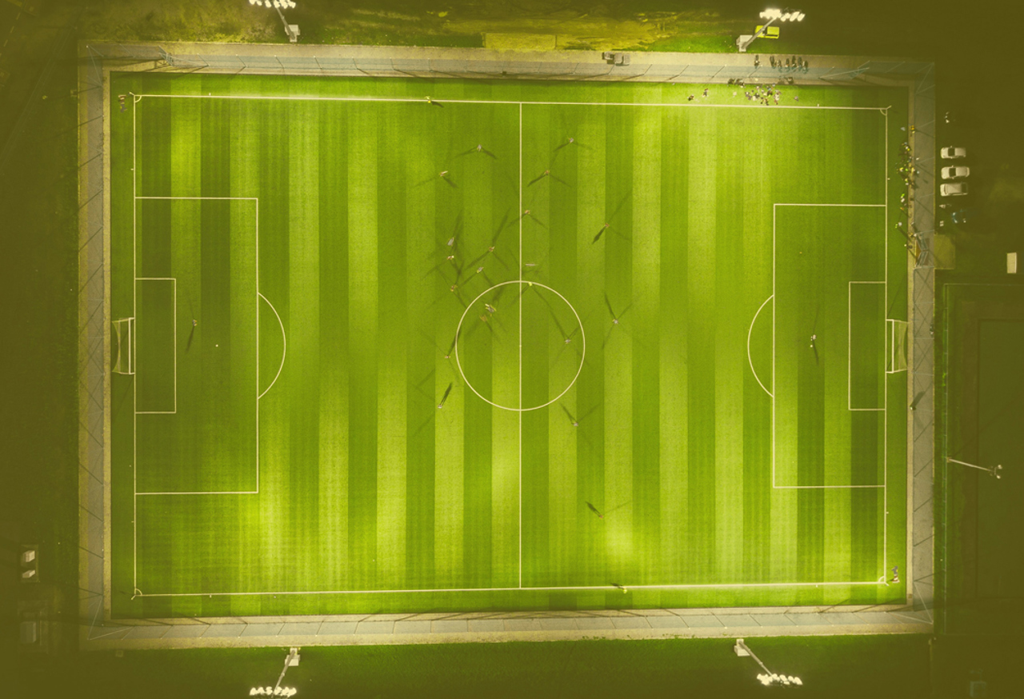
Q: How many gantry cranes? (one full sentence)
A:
There are no gantry cranes in this view.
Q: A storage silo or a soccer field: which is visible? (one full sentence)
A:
There is a soccer field in the scene.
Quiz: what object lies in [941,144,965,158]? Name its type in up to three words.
car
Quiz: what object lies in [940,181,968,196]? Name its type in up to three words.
vehicle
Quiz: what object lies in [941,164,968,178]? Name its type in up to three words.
car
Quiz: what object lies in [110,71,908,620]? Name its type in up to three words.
soccer field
